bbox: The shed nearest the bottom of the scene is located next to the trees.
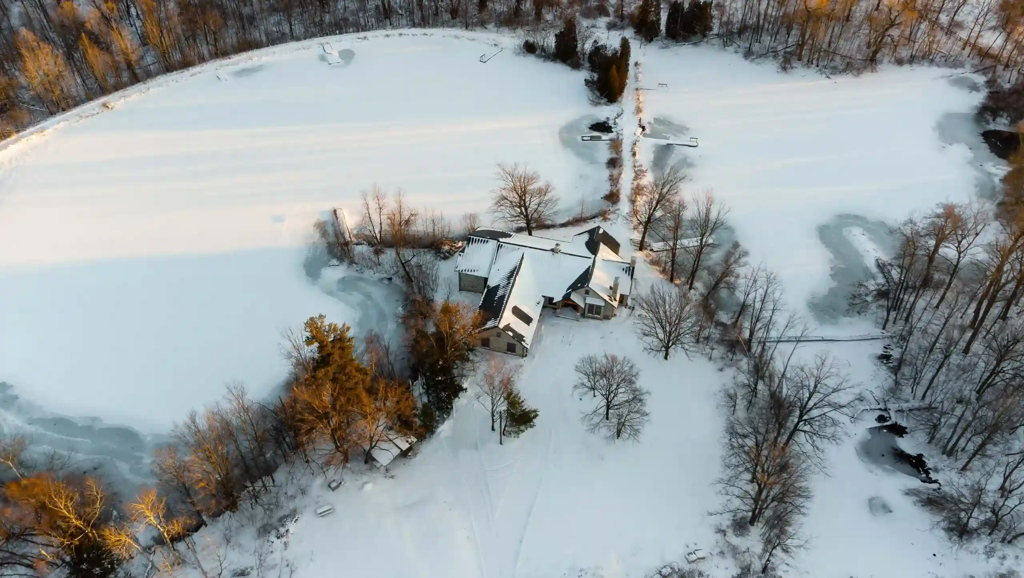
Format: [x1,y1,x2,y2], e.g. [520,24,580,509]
[366,425,417,479]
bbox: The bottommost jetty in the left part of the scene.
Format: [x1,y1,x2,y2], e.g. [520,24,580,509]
[332,209,350,244]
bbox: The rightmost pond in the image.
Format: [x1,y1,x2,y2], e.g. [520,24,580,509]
[641,47,1024,341]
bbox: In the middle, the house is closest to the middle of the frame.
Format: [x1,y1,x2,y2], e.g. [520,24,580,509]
[451,226,636,355]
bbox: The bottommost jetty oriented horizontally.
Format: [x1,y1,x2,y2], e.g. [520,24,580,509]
[650,239,716,251]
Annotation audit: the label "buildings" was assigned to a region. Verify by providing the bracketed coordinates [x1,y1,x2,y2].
[451,226,636,355]
[366,425,417,479]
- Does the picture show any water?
Yes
